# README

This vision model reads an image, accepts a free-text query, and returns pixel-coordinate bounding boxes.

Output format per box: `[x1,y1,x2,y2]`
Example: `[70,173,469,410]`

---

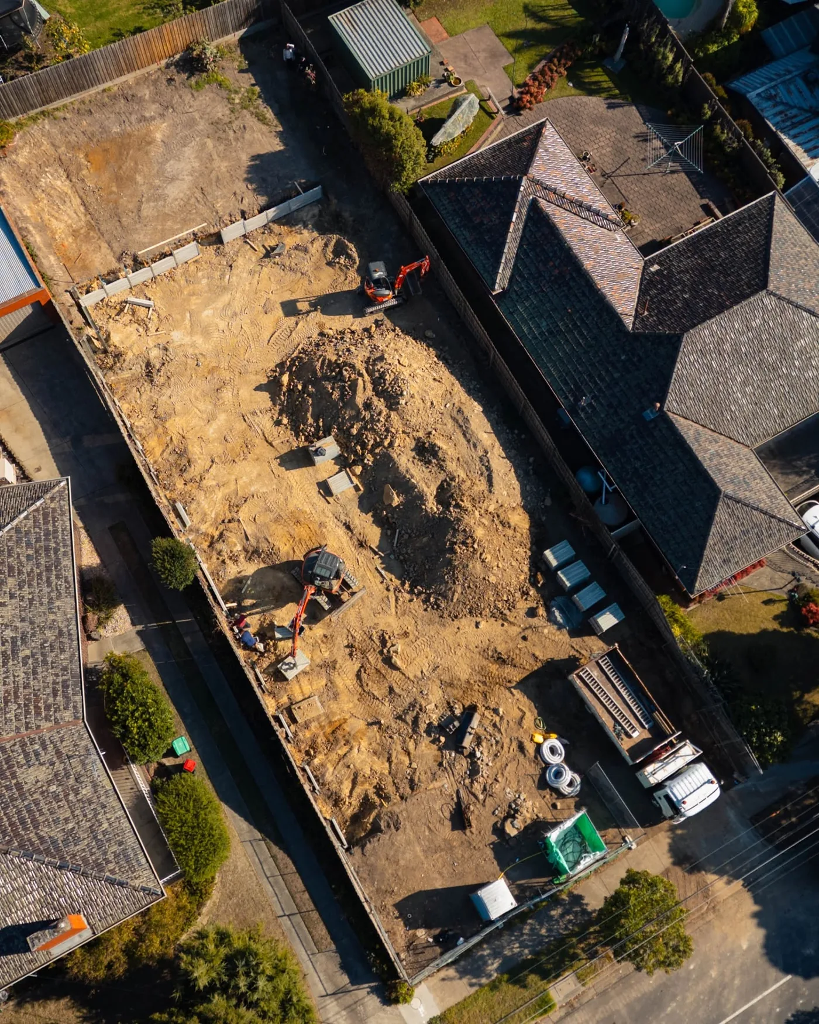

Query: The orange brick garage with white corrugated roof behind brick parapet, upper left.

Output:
[0,195,64,346]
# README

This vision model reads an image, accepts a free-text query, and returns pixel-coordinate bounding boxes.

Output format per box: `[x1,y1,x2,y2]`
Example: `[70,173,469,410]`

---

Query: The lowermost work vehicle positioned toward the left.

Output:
[287,543,363,663]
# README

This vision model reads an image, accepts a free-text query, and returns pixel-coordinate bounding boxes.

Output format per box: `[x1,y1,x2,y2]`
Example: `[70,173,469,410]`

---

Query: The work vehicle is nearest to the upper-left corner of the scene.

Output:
[357,255,433,321]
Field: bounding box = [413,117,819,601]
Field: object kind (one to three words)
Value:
house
